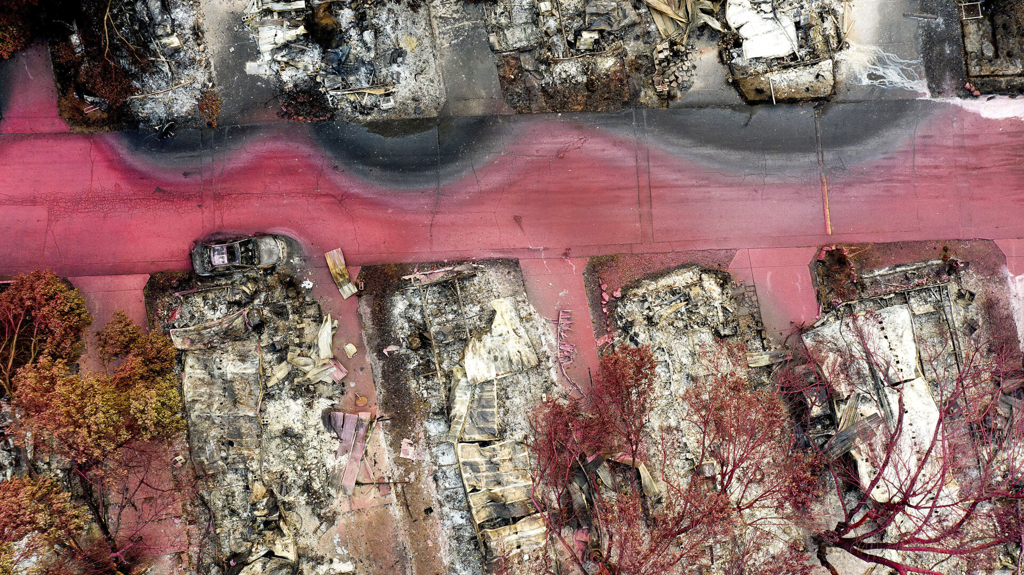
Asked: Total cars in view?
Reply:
1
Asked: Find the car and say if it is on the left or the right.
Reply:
left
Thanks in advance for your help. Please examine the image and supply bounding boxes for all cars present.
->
[189,233,290,276]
